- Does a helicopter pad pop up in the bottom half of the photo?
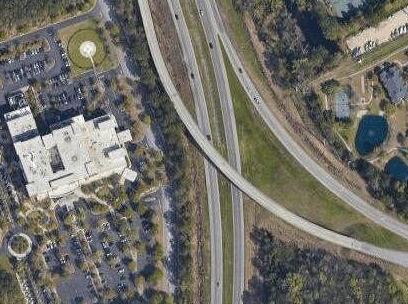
No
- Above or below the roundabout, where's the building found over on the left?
above it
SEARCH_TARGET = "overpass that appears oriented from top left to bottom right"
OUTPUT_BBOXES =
[138,0,398,262]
